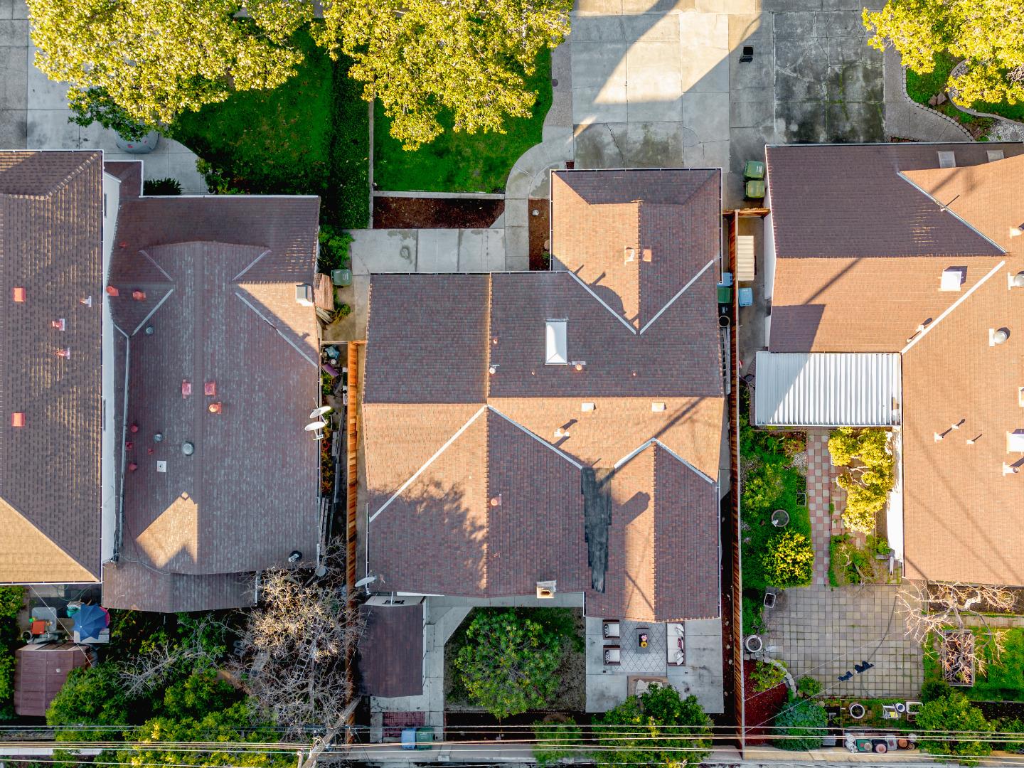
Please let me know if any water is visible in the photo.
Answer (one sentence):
No, the picture contains no water.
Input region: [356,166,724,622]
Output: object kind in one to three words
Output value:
house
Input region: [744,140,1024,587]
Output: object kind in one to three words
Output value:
house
